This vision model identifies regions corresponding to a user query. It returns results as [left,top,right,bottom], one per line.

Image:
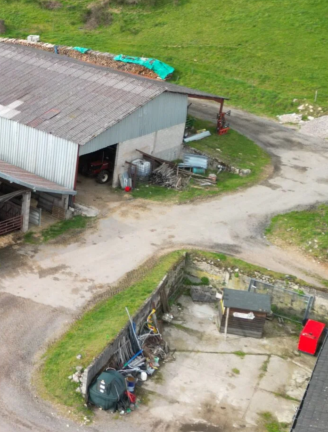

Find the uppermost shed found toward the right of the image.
[218,289,270,338]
